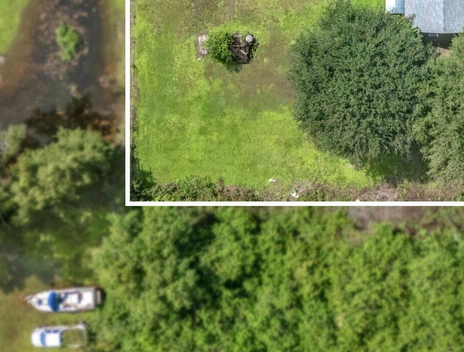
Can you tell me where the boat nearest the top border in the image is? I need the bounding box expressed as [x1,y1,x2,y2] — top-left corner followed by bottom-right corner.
[26,283,103,315]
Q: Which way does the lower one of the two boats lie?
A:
horizontally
